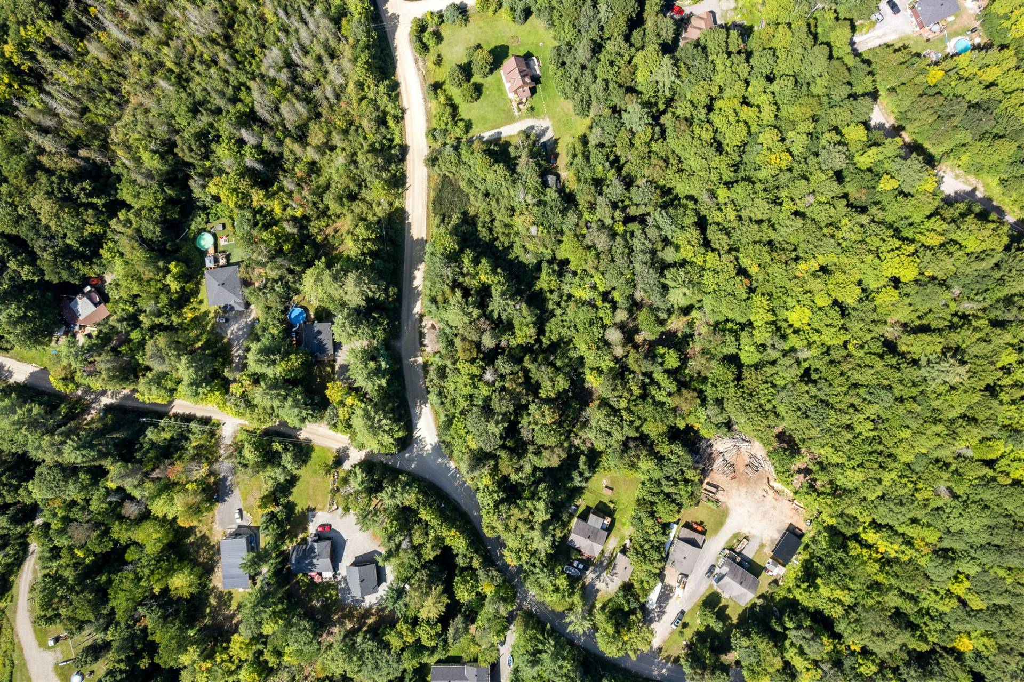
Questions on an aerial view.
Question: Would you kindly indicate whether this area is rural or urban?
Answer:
rural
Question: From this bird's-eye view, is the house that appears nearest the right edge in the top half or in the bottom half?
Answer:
top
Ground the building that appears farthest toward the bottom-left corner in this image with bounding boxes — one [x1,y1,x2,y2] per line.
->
[220,528,257,589]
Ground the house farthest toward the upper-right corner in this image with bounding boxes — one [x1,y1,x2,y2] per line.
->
[904,0,960,40]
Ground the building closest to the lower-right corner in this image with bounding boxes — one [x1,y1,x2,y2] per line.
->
[766,529,802,566]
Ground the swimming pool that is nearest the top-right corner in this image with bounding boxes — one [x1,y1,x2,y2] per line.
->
[953,36,973,53]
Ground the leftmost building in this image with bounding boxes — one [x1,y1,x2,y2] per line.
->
[58,291,115,336]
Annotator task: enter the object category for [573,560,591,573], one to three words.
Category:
vehicle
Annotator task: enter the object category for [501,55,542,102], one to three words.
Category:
house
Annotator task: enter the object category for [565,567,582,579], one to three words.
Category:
boat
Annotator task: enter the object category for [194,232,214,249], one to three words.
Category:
swimming pool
